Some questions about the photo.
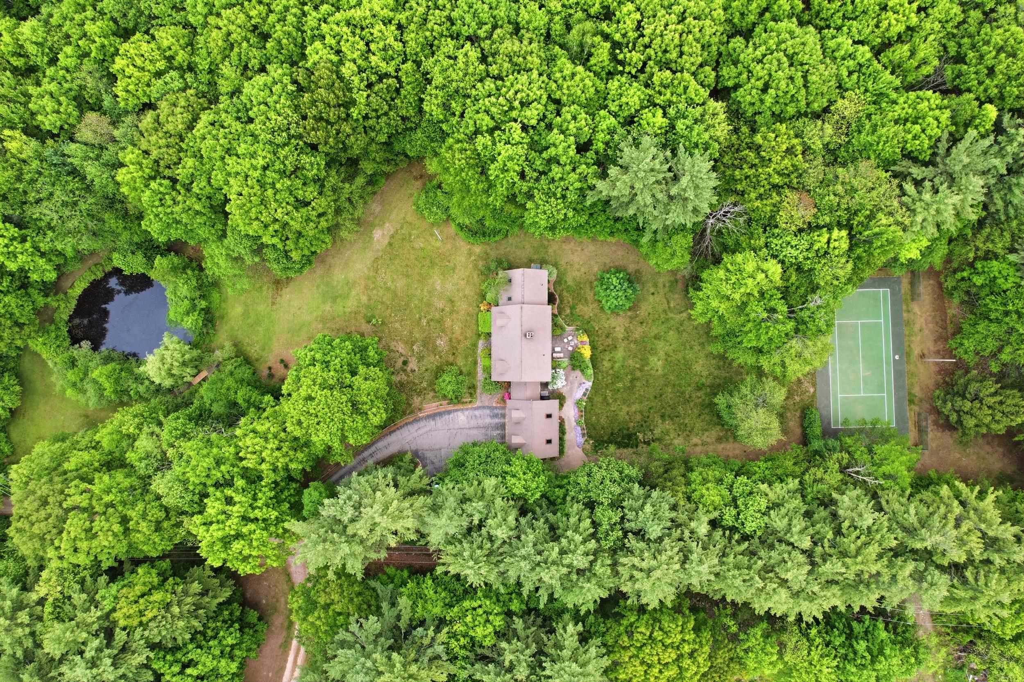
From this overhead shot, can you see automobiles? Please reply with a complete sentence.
No, I find no automobile anywhere in the image.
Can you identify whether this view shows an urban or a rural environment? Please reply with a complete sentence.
The land in this view is best described as rural.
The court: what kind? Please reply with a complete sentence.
The court can be classified as a tennis court.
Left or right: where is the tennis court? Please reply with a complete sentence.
The tennis court sits on the right side.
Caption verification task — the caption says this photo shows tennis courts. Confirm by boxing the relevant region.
[814,277,913,445]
